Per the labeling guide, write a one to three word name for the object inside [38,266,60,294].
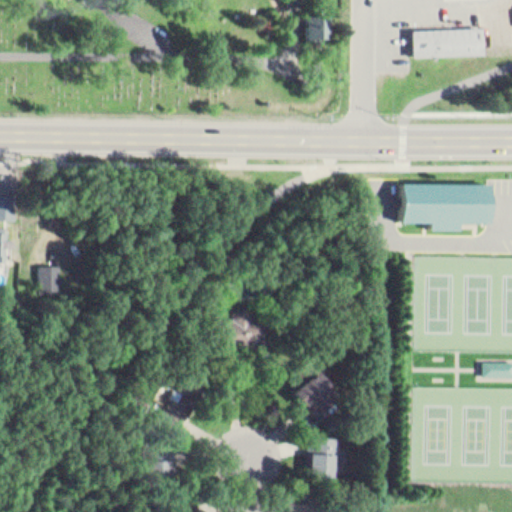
house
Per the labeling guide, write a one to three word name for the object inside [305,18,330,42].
house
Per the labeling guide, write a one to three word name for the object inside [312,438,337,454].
building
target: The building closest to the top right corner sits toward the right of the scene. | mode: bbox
[410,29,486,60]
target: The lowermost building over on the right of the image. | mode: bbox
[312,454,337,480]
